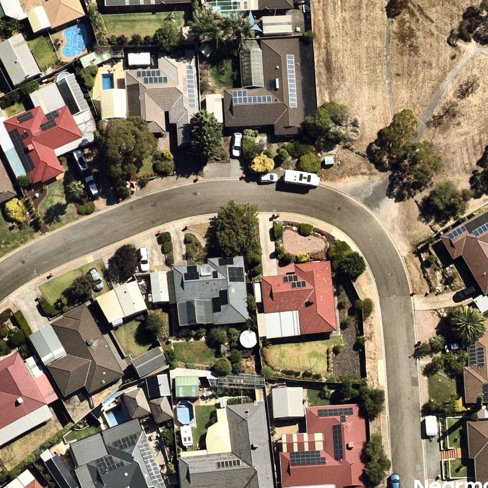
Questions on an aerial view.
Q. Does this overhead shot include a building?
Yes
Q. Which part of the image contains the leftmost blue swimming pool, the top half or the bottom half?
top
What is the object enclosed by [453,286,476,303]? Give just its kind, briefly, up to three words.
car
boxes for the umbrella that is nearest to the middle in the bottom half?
[240,330,256,347]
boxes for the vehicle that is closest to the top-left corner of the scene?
[73,148,88,173]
